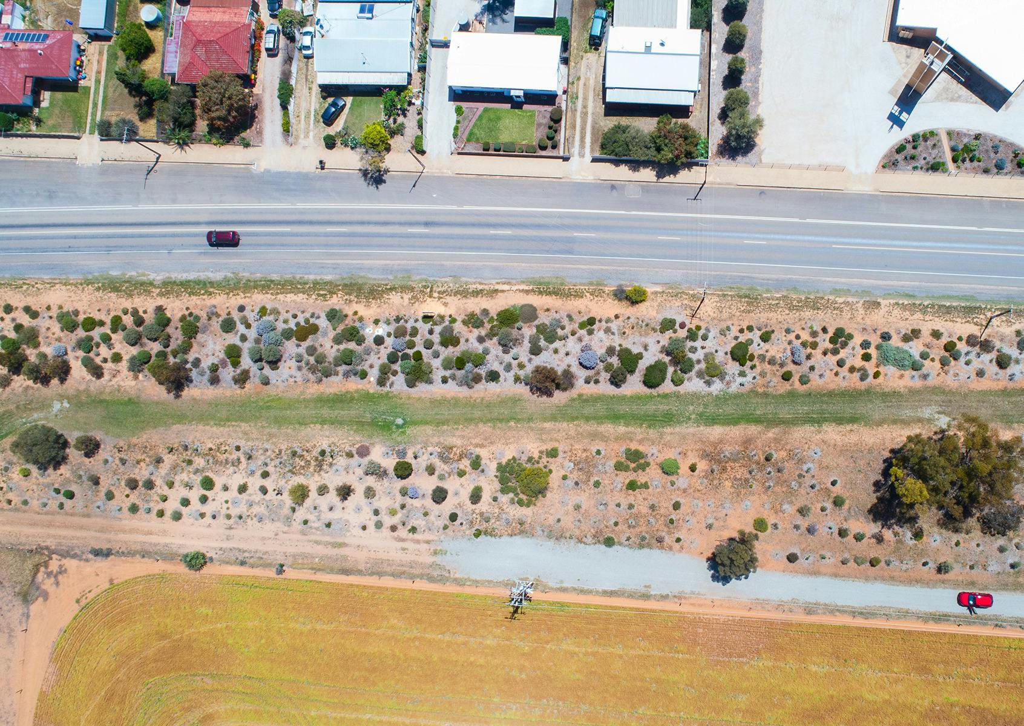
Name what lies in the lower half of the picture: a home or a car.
car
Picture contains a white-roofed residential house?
Yes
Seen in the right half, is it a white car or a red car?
red car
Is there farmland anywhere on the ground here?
Yes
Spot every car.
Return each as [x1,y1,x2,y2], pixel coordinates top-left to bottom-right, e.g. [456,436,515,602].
[265,0,283,15]
[957,592,992,614]
[590,10,609,48]
[265,26,283,58]
[208,231,241,247]
[323,99,348,128]
[300,28,315,60]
